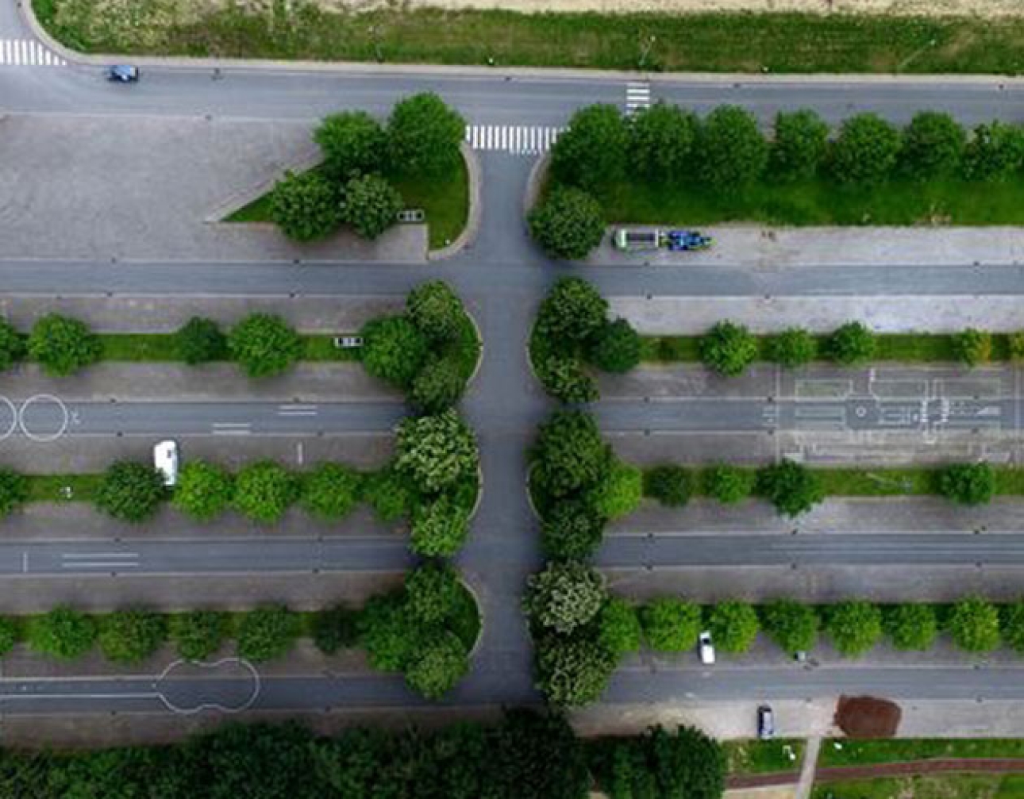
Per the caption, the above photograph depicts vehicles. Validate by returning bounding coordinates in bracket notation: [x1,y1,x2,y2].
[697,631,713,663]
[107,63,136,79]
[153,443,178,484]
[757,709,773,739]
[665,225,713,250]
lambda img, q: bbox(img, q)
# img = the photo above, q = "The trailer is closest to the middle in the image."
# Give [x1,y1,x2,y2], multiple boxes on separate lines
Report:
[614,228,667,247]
